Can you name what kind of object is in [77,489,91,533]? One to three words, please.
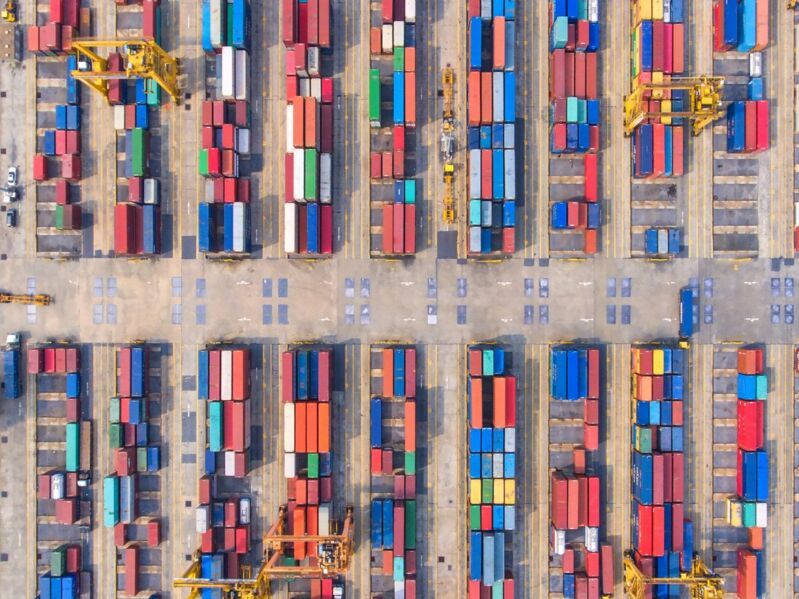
vehicle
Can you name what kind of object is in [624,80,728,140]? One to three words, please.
container crane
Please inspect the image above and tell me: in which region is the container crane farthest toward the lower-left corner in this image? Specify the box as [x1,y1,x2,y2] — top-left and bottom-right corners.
[175,549,271,599]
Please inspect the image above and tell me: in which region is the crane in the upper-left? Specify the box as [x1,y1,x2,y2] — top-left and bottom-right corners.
[77,39,181,103]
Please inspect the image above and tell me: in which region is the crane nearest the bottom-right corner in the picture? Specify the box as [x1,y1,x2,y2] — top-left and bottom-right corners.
[624,548,728,599]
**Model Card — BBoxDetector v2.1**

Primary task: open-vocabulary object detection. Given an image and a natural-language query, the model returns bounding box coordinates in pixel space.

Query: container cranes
[175,549,271,599]
[624,80,728,140]
[624,548,728,599]
[265,510,353,575]
[77,39,181,103]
